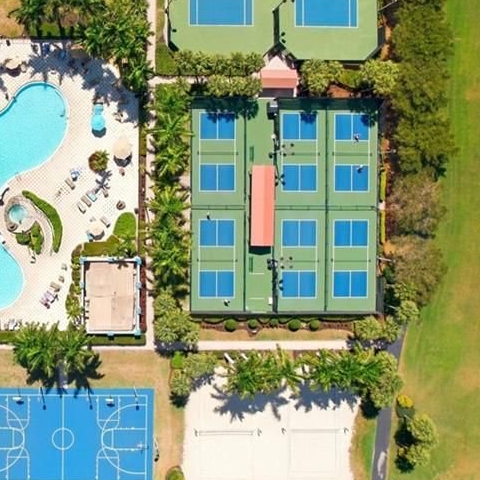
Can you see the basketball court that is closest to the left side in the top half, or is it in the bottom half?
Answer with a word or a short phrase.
bottom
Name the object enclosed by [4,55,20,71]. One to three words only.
umbrella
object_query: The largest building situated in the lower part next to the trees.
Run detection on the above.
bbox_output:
[81,256,142,336]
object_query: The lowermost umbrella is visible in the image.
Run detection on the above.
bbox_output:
[88,223,104,238]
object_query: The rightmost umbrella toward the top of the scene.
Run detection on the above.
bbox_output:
[113,139,132,157]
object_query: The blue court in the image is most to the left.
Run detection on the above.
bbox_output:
[0,388,154,480]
